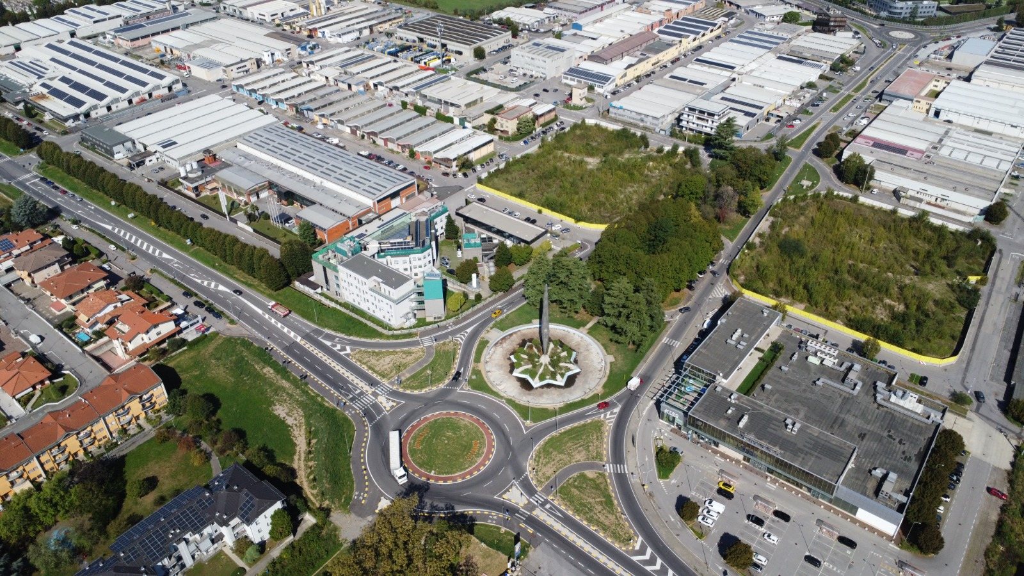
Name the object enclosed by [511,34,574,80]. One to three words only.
building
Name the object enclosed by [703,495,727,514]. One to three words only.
vehicle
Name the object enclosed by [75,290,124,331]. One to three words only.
house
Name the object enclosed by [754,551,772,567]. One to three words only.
car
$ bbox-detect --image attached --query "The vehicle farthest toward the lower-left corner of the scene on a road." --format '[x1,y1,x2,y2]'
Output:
[27,332,41,345]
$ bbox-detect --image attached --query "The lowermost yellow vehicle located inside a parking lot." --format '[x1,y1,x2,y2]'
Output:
[718,481,736,494]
